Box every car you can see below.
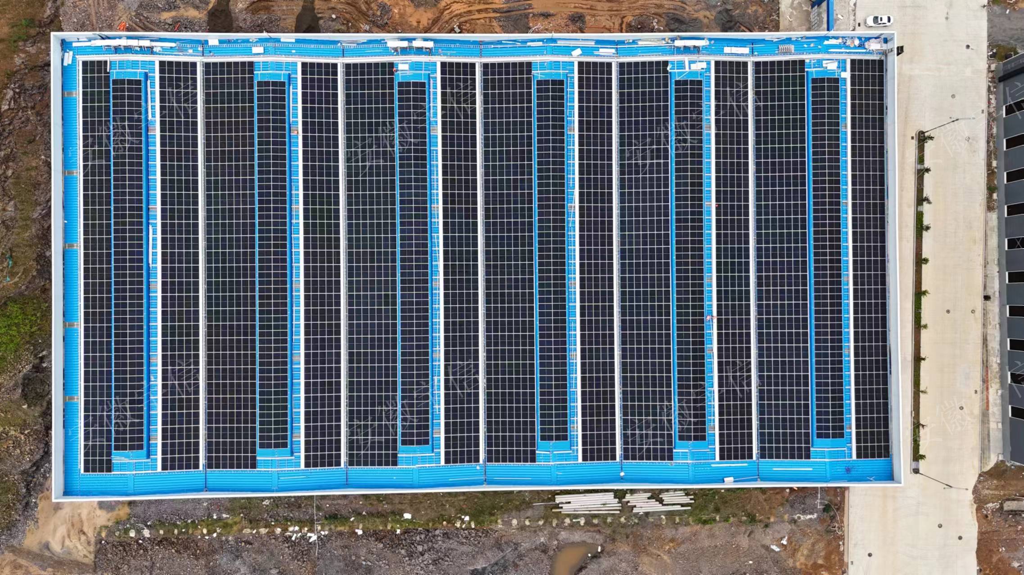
[864,14,893,28]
